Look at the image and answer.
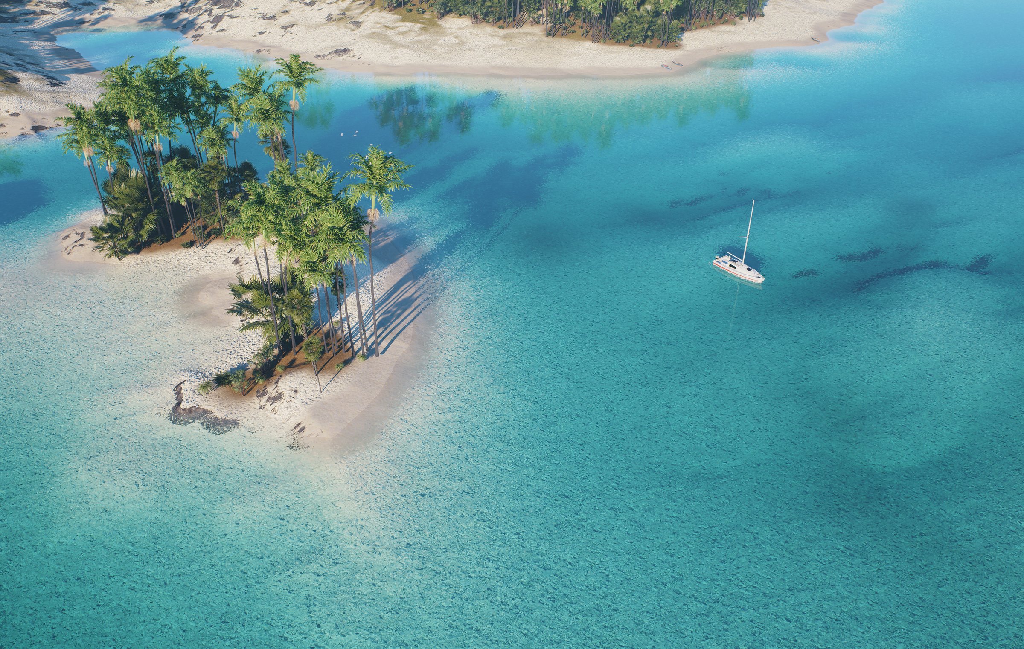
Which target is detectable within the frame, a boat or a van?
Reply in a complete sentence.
The image shows a boat.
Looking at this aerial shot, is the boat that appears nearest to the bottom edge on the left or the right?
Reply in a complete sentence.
The boat that appears nearest to the bottom edge is on the right side of the image.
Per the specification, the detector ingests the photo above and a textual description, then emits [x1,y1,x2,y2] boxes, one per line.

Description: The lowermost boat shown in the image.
[711,201,763,281]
